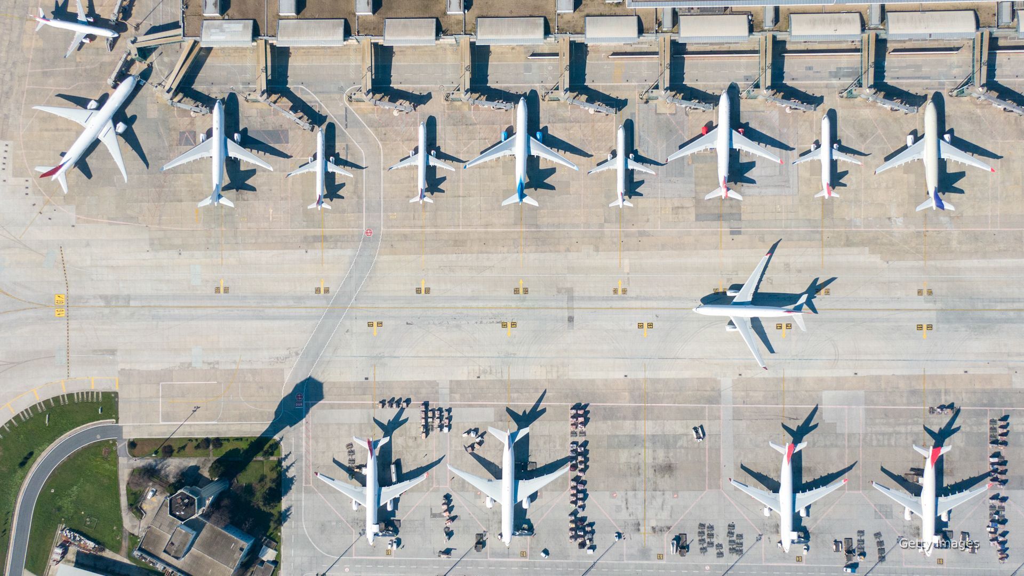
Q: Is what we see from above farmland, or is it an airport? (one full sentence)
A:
It's an airport.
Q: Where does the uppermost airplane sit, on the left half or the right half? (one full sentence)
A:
You can find the uppermost airplane on the left side of the picture.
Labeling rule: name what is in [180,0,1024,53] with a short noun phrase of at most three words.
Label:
building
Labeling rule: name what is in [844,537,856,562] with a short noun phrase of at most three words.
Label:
vehicle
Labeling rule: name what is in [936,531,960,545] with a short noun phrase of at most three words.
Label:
work vehicle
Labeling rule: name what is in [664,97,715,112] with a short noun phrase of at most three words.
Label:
jet bridge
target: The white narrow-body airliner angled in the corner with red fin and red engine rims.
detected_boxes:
[29,0,118,57]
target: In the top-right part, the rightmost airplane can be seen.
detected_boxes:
[876,99,996,212]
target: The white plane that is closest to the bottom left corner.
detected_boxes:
[315,437,426,545]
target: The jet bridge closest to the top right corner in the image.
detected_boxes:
[975,94,1024,118]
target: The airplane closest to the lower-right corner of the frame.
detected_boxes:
[874,445,993,556]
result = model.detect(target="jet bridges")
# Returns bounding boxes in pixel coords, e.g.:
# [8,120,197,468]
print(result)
[468,98,516,111]
[566,98,619,115]
[664,97,715,112]
[110,0,127,26]
[975,94,1024,118]
[865,96,920,114]
[765,96,817,112]
[266,100,316,132]
[106,46,132,87]
[167,101,212,117]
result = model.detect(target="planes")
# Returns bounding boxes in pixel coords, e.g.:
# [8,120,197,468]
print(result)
[692,256,817,370]
[730,442,848,553]
[388,122,454,204]
[286,127,352,210]
[315,437,426,545]
[448,428,569,546]
[160,100,269,207]
[793,115,862,199]
[464,97,578,206]
[667,90,783,200]
[588,125,655,208]
[30,76,136,193]
[876,99,996,212]
[29,0,118,57]
[874,445,993,556]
